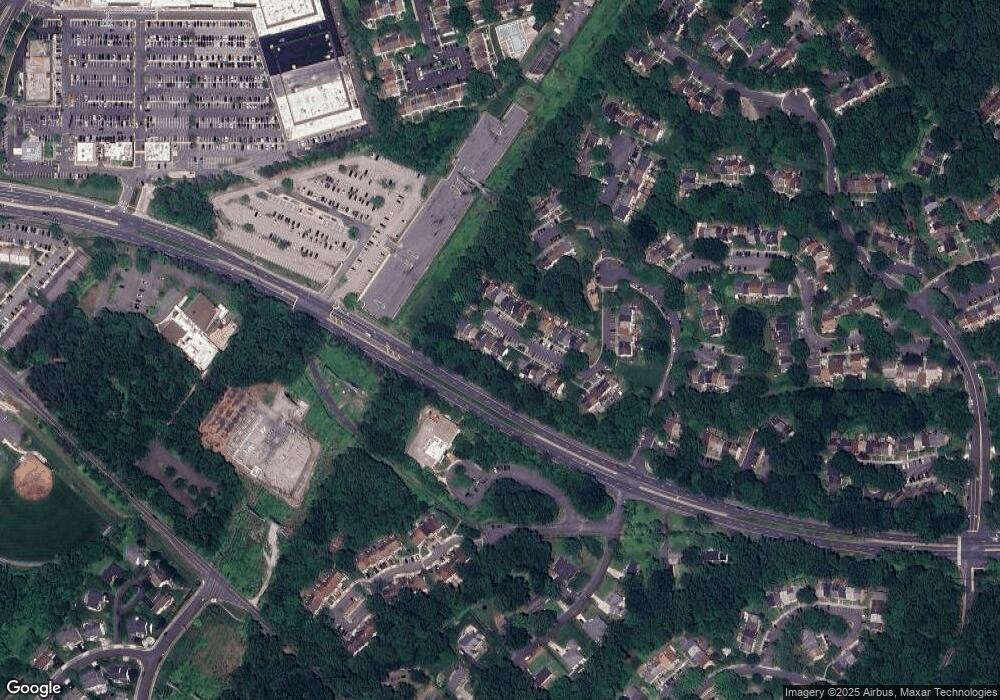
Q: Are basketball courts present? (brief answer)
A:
No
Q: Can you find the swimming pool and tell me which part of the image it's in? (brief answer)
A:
top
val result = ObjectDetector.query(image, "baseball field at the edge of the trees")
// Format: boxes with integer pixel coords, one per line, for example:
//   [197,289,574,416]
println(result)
[0,451,107,562]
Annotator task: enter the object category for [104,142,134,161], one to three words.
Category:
building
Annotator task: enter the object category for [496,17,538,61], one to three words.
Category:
swimming pool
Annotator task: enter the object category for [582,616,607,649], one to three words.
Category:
house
